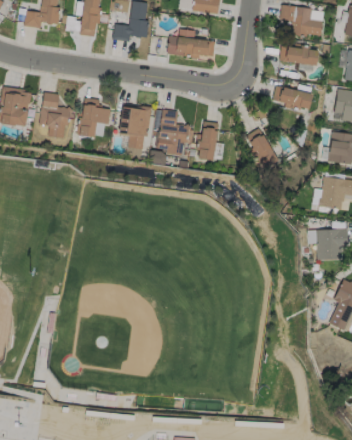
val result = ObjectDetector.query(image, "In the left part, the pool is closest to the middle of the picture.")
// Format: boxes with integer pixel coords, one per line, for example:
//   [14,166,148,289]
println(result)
[112,134,126,156]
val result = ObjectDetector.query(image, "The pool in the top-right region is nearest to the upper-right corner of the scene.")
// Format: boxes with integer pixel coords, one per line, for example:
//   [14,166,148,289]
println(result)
[308,65,326,80]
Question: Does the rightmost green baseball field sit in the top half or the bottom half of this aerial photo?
bottom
